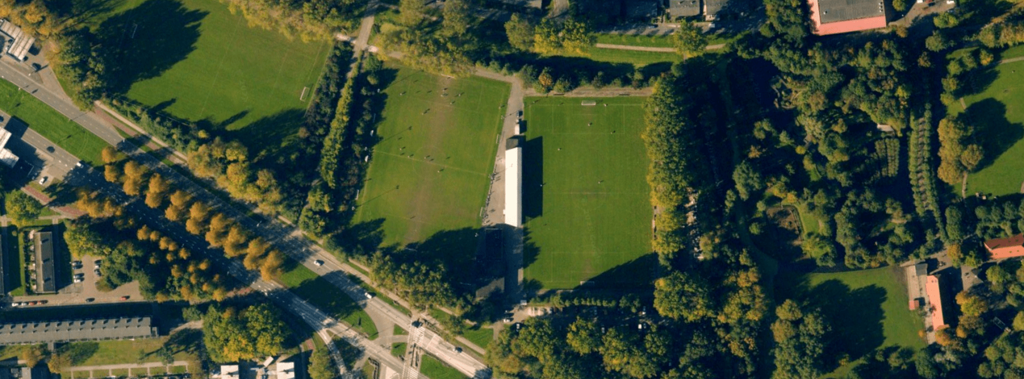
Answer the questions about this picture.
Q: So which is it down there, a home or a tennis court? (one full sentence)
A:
Of the two, only a home appears.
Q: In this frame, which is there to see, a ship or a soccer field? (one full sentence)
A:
Looking from above, you can make out a soccer field.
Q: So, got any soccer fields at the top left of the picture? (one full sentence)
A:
Yes, a soccer field shows up at the top left of the picture.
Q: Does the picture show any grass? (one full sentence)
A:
Yes, the picture does contain grass.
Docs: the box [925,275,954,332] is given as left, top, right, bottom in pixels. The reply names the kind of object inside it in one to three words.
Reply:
house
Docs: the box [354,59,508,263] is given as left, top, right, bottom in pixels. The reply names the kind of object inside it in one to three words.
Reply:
soccer field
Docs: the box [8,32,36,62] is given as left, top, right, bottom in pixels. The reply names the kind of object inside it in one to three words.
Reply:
building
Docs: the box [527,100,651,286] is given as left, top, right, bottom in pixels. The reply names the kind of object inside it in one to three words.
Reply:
soccer field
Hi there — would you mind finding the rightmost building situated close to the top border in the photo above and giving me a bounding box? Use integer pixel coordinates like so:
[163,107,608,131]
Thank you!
[808,0,886,37]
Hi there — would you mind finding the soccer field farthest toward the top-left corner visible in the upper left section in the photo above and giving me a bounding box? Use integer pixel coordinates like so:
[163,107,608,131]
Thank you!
[112,0,331,147]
